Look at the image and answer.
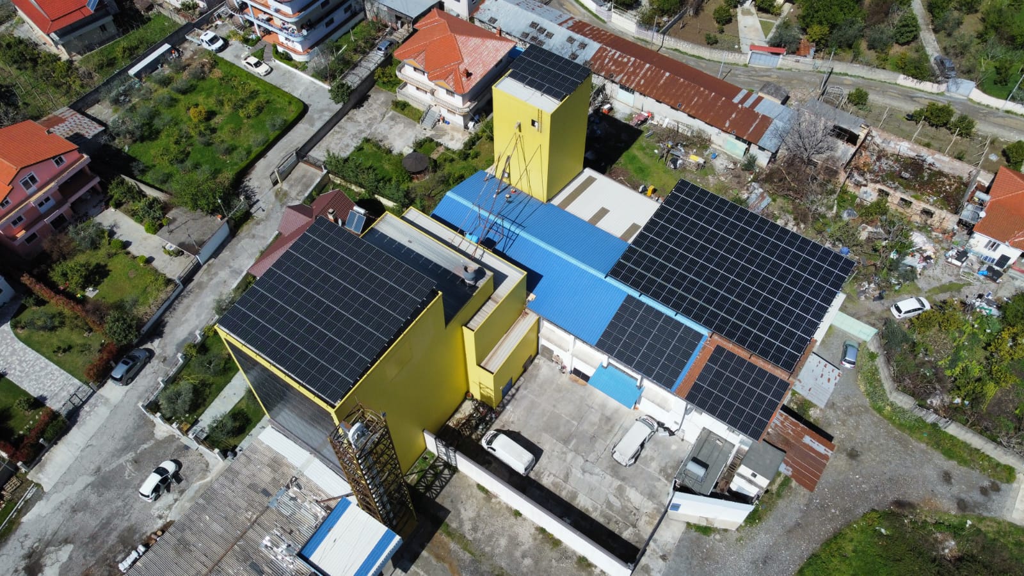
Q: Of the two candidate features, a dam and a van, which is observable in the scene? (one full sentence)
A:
The image shows a van.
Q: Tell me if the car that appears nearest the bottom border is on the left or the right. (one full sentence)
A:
It is on the left.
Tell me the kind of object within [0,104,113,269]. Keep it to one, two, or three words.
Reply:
house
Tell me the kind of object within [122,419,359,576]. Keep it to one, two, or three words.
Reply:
shed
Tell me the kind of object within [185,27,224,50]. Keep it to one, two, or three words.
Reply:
truck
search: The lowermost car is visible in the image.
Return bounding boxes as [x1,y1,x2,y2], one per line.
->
[134,457,182,502]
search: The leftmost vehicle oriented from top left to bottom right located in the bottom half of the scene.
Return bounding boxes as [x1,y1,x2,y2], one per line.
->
[480,429,537,476]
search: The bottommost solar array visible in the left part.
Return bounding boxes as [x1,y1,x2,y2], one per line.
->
[222,217,436,405]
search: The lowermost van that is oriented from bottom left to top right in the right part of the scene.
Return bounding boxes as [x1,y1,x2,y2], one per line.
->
[613,413,660,463]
